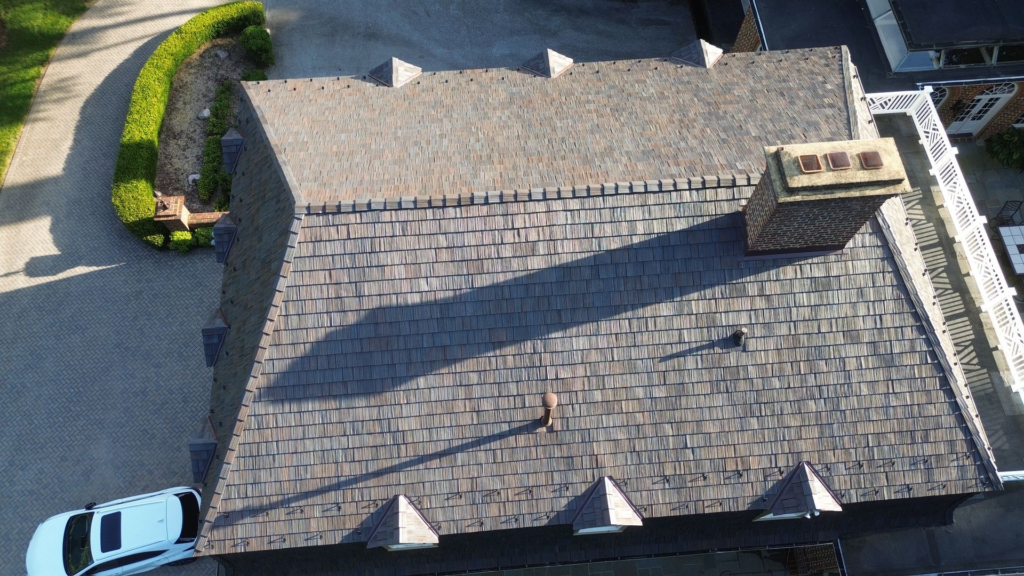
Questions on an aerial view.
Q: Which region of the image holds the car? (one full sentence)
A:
The car appears toward the bottom left of the photo.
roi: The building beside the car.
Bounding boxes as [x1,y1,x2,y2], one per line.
[186,37,1006,576]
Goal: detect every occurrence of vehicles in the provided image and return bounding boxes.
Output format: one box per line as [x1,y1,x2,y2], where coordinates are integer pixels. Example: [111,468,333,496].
[25,486,210,576]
